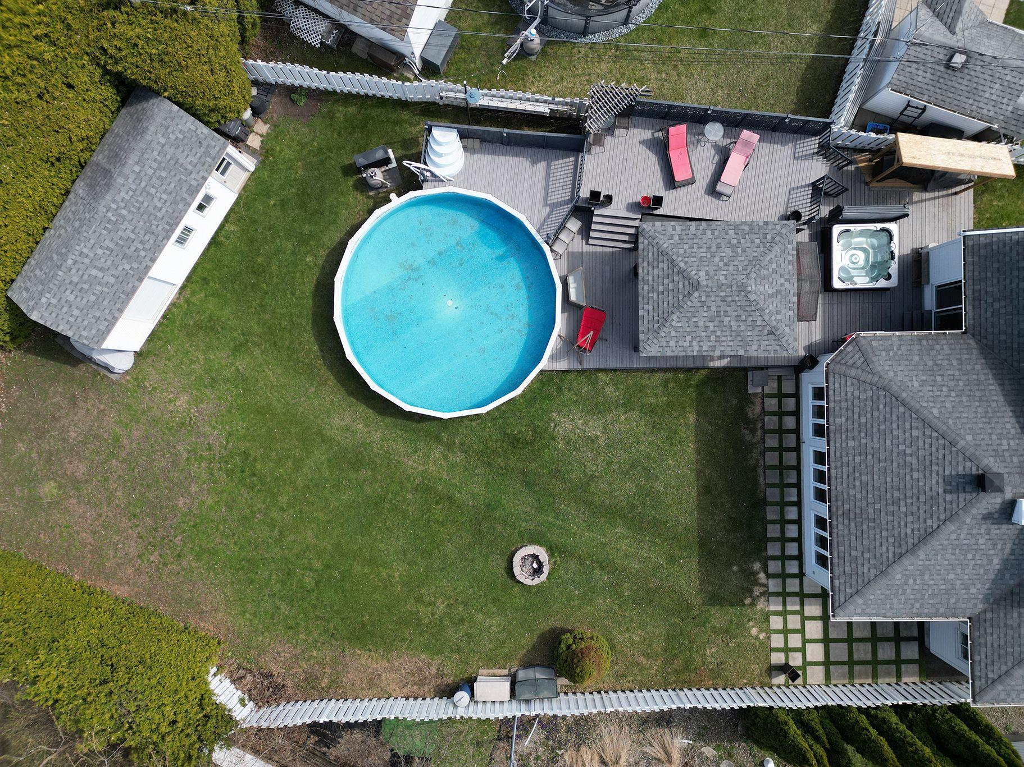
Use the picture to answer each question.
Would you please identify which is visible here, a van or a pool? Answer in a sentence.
Visible in the photo is a pool.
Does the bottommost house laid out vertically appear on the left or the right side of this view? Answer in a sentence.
It is on the right.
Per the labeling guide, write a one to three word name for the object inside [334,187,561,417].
swimming pool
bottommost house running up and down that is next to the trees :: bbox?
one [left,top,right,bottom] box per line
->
[801,218,1024,706]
